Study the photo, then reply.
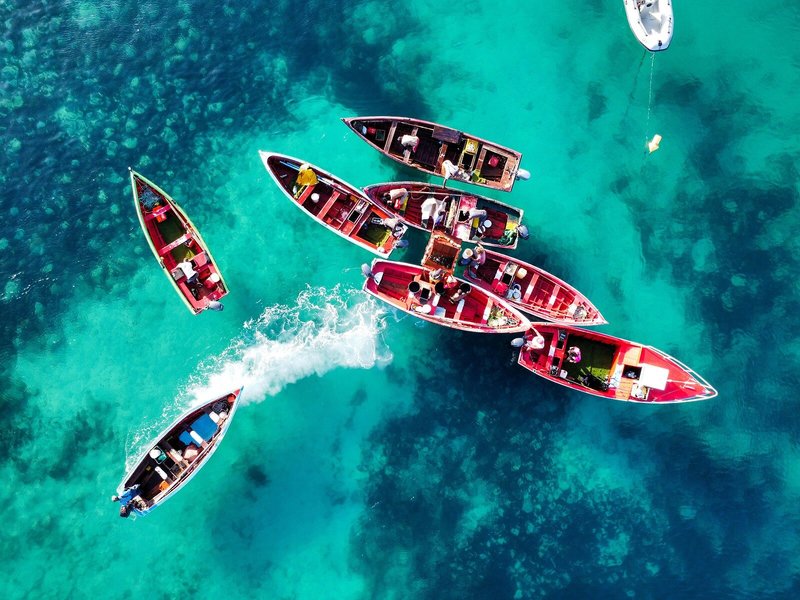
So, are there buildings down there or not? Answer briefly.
No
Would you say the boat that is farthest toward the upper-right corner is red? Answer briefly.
No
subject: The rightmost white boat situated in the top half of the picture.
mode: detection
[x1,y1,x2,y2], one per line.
[627,0,676,51]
